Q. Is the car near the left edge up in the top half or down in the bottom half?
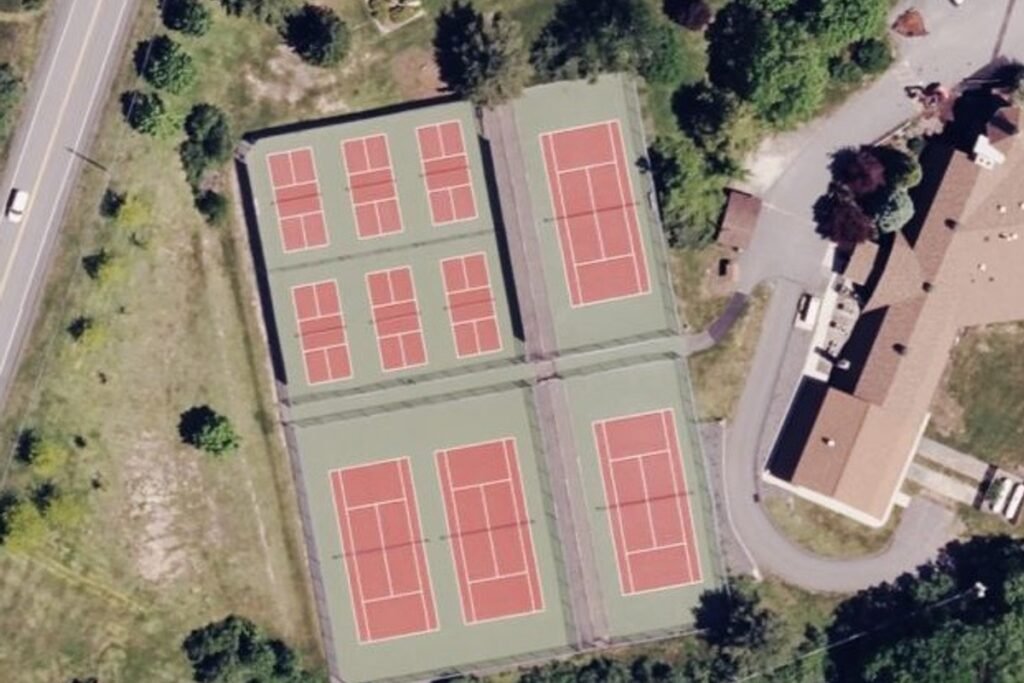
top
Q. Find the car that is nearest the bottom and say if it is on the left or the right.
right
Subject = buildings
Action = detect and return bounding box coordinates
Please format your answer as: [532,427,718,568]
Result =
[718,192,762,246]
[792,100,1024,521]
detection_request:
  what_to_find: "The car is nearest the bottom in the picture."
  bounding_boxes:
[796,293,818,328]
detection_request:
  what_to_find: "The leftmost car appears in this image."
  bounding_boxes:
[7,189,30,224]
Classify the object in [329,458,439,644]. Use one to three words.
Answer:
tennis court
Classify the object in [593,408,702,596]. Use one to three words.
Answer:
tennis court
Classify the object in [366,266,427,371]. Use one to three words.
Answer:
sports court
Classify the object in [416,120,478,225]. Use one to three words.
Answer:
sports court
